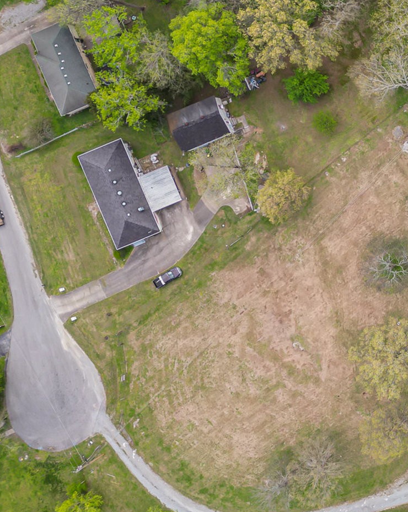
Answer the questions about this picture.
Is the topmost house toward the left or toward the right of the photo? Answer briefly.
left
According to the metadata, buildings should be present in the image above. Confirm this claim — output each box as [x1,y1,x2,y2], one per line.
[167,96,235,151]
[31,22,100,116]
[78,139,166,249]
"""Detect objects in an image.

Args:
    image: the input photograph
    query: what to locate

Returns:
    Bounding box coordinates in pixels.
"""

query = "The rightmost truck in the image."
[151,265,185,289]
